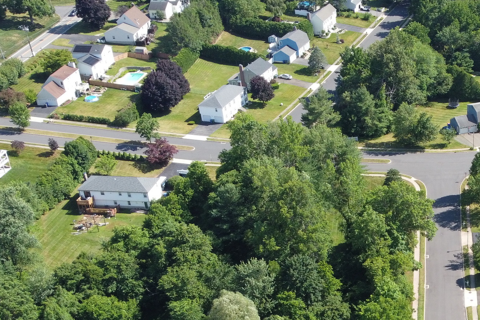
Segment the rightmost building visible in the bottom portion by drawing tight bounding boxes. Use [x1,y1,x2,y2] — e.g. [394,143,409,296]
[76,172,162,216]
